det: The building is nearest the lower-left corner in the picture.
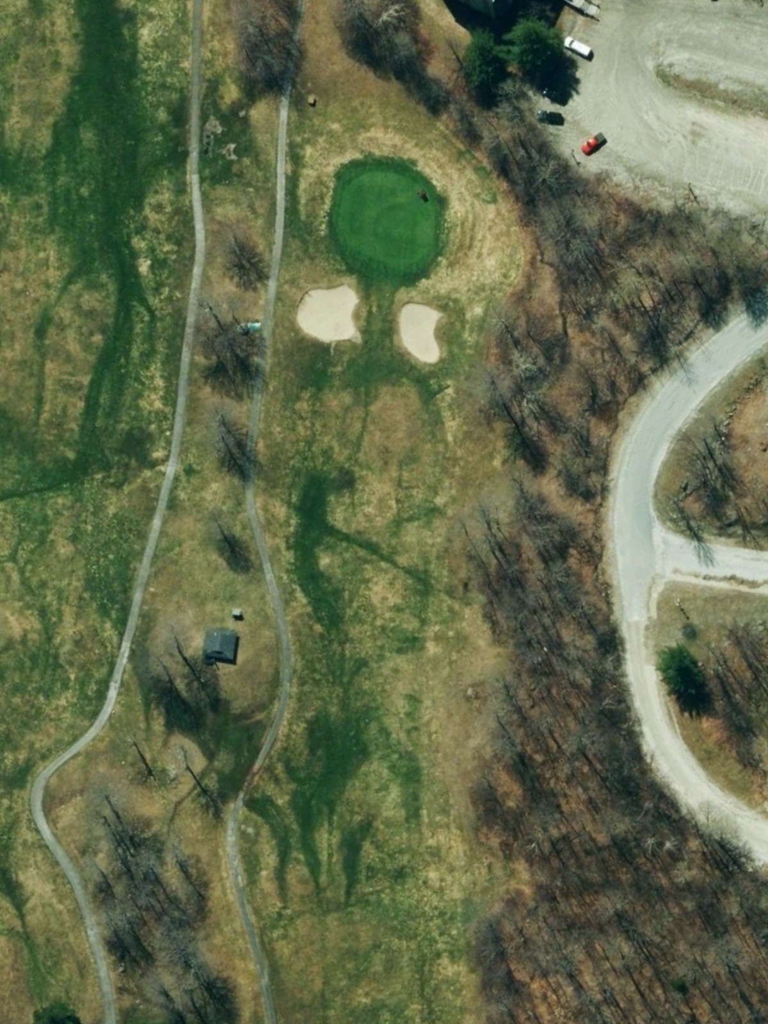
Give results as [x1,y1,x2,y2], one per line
[205,629,236,661]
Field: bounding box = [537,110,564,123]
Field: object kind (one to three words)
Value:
vehicle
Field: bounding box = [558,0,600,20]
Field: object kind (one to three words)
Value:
vehicle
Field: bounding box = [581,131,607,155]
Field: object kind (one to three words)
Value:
truck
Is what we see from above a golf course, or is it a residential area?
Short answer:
golf course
